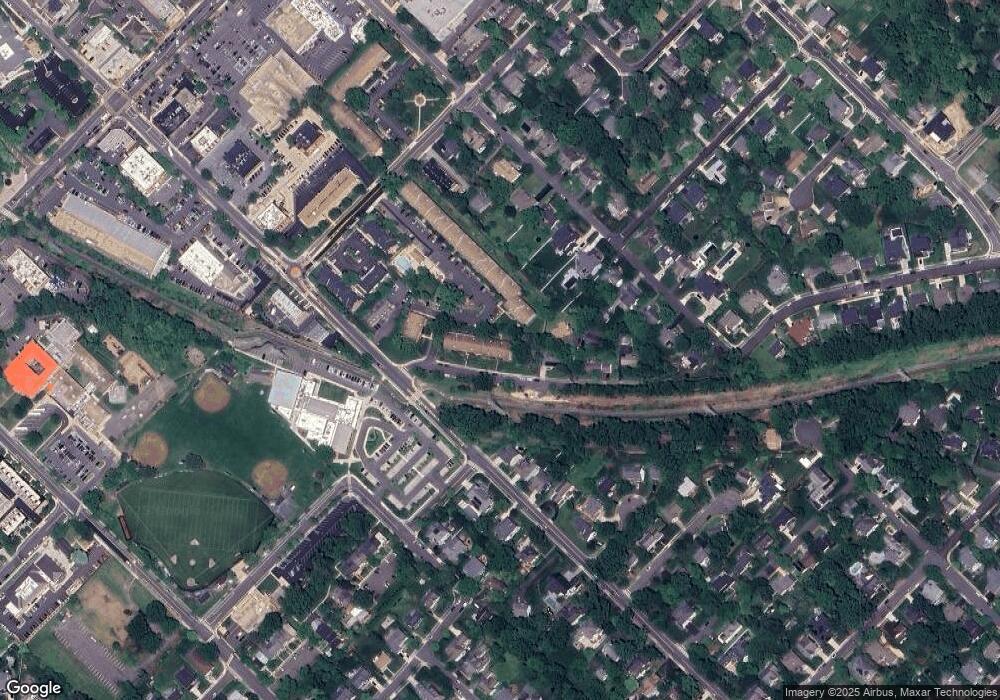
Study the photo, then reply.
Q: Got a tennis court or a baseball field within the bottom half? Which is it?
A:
baseball field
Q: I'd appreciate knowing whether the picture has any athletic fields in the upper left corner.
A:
No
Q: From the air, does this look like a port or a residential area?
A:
residential area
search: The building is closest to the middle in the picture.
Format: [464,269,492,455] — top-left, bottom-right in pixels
[443,333,513,361]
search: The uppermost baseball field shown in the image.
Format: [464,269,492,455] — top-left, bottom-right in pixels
[194,367,229,412]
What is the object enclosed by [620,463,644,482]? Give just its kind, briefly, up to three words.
house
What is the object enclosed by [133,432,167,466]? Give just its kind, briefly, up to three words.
baseball field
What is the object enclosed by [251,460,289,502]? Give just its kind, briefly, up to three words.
baseball field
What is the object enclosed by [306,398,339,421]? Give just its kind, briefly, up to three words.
building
